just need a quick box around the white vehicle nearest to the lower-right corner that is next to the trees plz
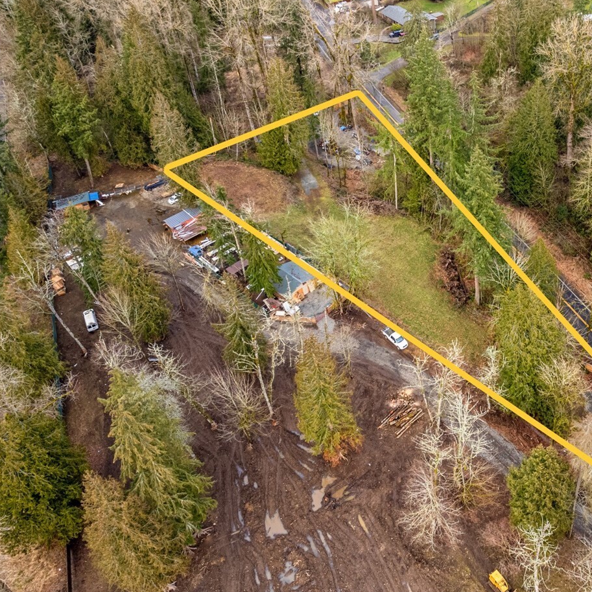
[381,327,407,347]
